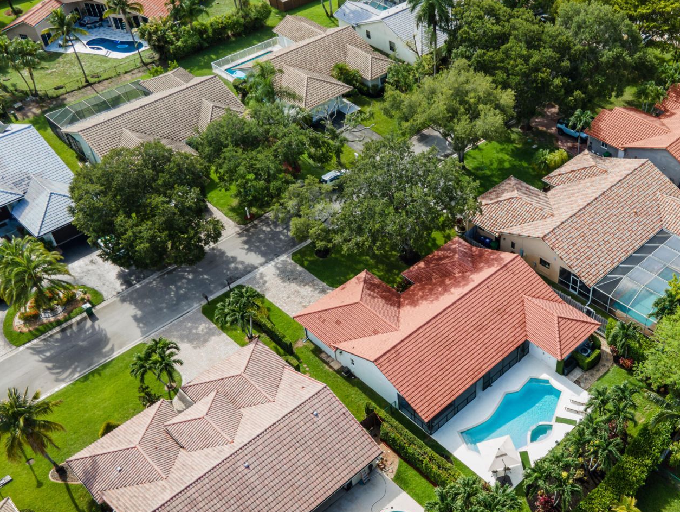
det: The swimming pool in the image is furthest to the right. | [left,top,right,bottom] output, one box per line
[607,264,680,326]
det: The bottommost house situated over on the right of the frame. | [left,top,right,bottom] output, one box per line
[292,236,603,436]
